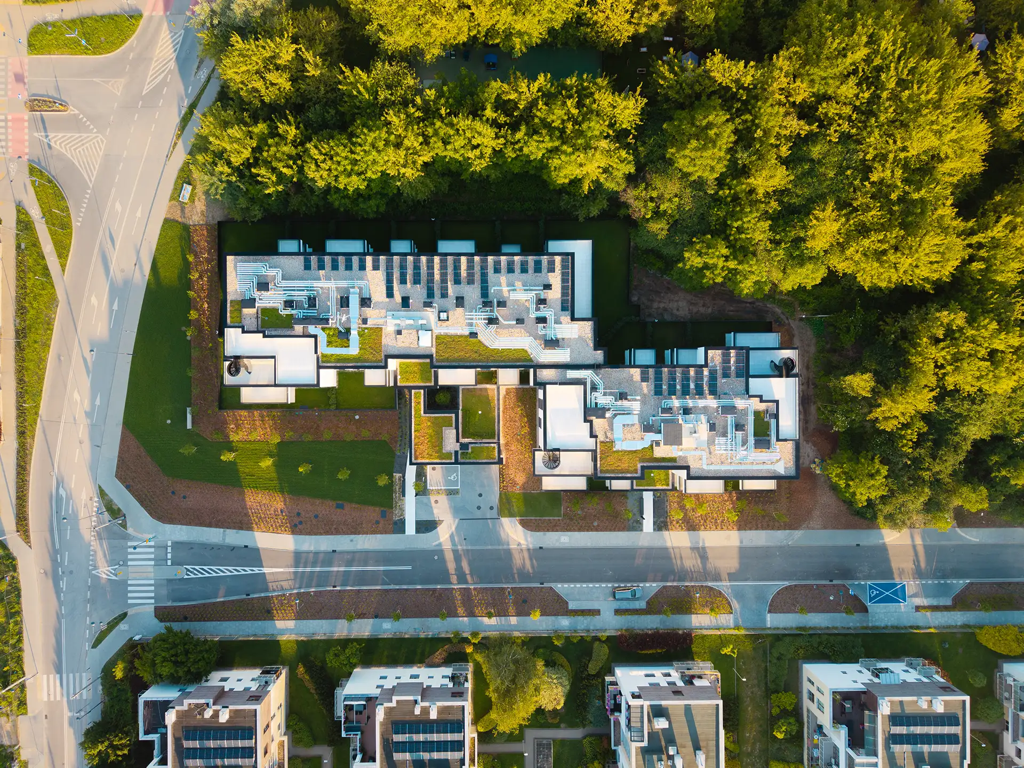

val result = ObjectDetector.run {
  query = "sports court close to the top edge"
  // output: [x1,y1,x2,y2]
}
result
[521,33,603,93]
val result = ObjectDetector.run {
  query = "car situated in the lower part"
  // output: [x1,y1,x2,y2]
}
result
[613,587,644,602]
